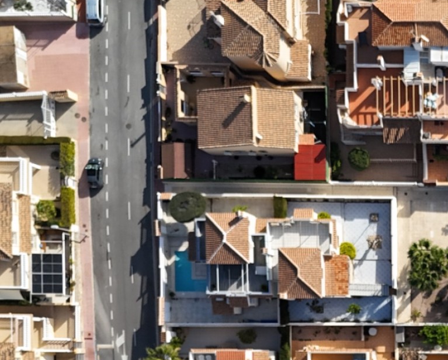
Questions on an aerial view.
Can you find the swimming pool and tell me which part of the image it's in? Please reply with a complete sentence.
The swimming pool is in the bottom part of the image.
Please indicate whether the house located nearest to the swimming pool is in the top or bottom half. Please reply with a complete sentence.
Seen from above, the house located nearest to the swimming pool lies in the bottom half of the view.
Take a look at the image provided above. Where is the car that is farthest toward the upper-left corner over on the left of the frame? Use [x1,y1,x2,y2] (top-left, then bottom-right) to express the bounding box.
[87,0,105,28]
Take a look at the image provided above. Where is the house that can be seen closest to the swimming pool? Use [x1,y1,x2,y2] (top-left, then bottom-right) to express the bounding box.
[188,209,292,315]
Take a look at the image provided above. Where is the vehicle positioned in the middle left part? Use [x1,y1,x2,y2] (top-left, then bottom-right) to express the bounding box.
[87,159,104,189]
